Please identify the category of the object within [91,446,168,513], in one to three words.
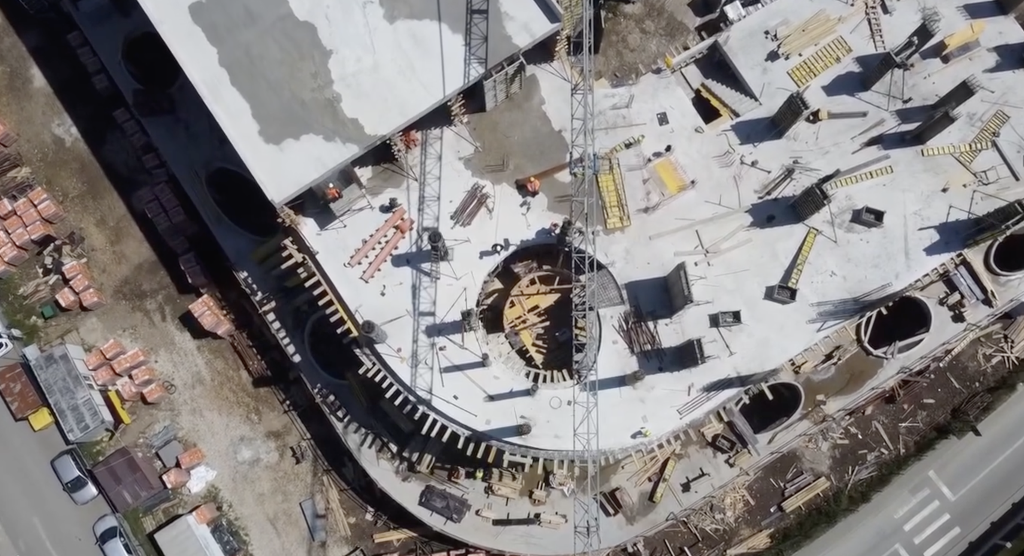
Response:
shed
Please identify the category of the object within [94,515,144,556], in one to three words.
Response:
car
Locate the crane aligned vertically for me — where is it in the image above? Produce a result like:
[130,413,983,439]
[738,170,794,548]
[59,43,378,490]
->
[571,0,600,556]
